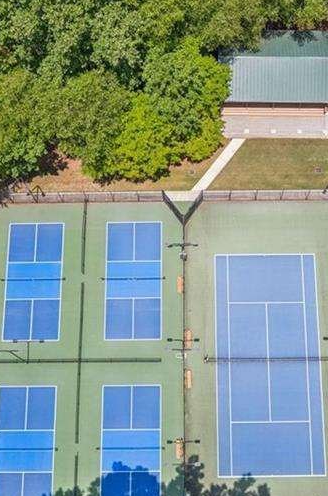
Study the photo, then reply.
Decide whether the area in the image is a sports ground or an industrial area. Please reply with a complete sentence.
This image shows a sports ground.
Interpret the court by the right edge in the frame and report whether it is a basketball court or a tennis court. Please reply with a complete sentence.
I'd identify the court by the right edge as a tennis court.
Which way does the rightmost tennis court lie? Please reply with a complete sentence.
The rightmost tennis court is laid out vertically.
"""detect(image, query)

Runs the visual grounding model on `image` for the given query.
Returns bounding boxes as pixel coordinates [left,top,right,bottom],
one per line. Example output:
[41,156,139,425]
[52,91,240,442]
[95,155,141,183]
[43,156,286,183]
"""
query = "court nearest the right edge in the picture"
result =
[216,254,326,477]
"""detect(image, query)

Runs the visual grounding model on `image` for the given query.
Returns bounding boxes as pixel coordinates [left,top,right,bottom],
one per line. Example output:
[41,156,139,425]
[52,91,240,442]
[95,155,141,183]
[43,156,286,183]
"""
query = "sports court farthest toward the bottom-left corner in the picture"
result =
[0,386,56,496]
